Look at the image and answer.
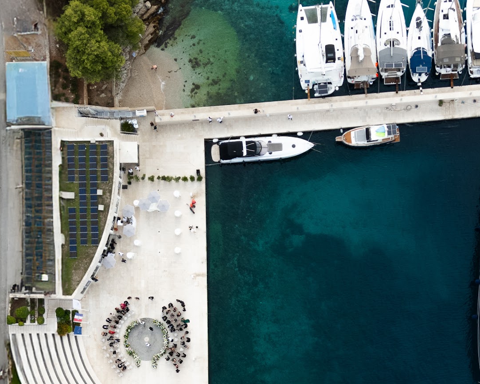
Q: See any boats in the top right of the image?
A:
Yes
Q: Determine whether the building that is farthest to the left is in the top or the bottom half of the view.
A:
top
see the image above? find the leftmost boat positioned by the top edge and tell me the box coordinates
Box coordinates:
[294,0,345,100]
